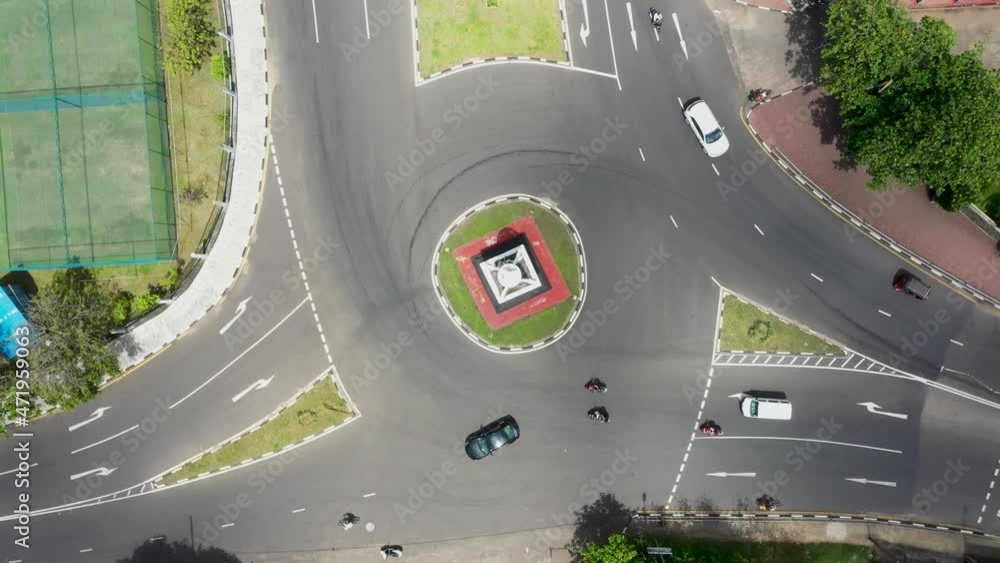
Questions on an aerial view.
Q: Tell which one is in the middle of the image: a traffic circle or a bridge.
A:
traffic circle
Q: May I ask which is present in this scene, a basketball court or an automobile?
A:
automobile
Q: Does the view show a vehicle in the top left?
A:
No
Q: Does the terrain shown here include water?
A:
No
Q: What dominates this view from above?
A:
paved ground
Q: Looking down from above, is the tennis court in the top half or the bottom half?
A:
top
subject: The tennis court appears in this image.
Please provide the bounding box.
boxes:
[0,0,177,261]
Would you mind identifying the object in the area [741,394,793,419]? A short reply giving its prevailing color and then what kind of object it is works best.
white vehicle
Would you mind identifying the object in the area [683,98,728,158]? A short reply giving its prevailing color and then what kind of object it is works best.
white car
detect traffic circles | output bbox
[432,193,588,354]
